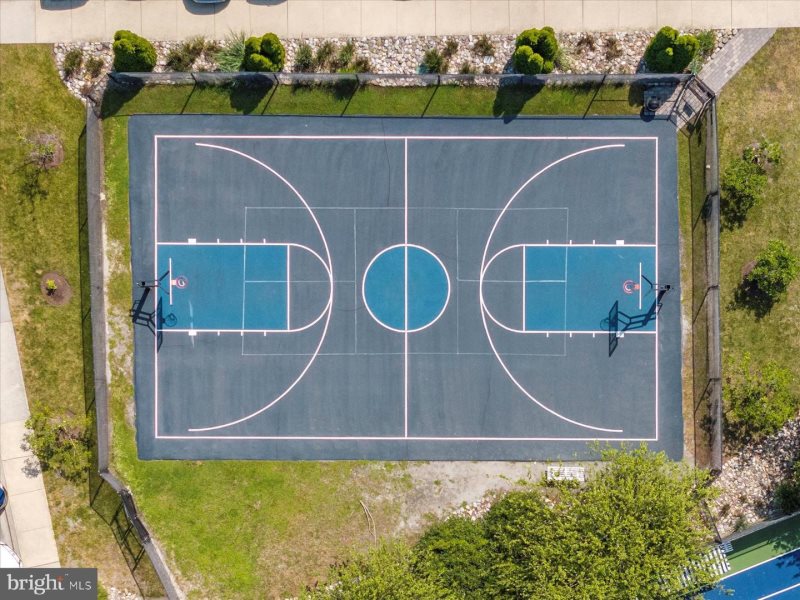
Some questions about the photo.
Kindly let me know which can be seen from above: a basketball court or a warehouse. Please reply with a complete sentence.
This aerial view contains a basketball court.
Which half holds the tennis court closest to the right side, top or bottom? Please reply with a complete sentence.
Seen from above, the tennis court closest to the right side lies in the bottom half of the view.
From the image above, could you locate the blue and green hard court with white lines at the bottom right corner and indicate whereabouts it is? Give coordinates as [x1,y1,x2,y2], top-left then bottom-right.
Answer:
[654,517,800,600]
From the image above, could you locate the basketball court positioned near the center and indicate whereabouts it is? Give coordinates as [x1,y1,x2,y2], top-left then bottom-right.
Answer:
[130,115,684,462]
